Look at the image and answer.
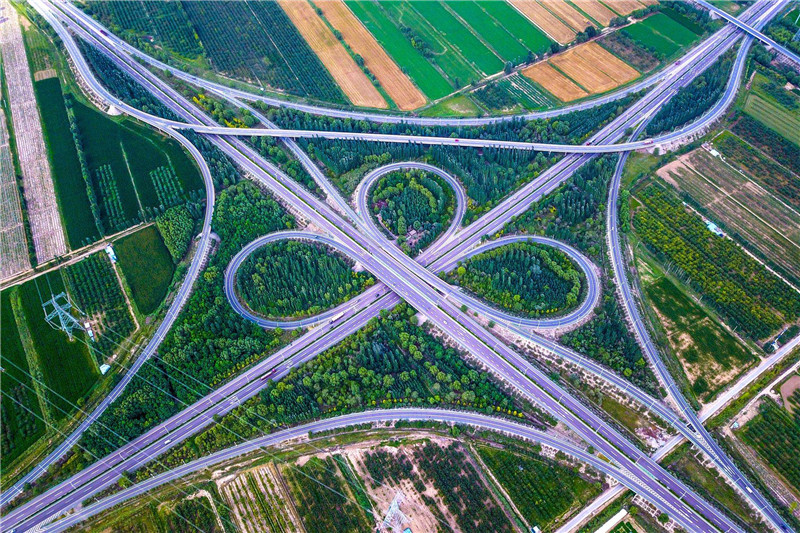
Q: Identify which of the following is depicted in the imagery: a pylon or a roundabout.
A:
pylon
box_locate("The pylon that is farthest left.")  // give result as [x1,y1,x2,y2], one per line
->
[44,292,84,338]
